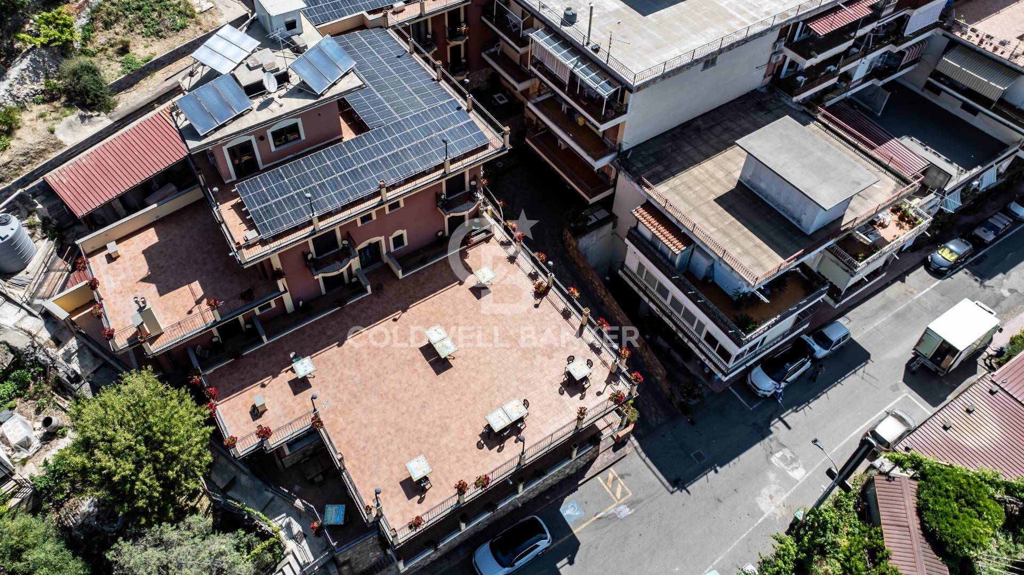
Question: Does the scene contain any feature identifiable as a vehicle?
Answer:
Yes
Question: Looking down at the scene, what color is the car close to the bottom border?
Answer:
black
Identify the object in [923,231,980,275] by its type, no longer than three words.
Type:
car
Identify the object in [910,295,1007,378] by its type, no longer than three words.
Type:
truck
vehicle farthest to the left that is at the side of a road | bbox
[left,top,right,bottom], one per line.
[467,514,554,575]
